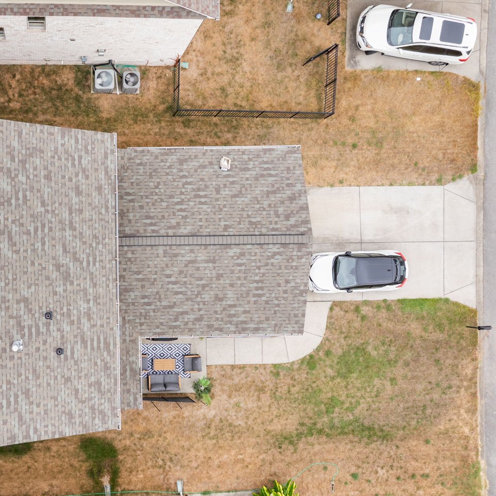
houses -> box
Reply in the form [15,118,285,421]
[0,0,223,65]
[0,118,314,446]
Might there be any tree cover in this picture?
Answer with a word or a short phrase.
No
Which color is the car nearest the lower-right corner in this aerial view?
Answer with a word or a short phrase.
white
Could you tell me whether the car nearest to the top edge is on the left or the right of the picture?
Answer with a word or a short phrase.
right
